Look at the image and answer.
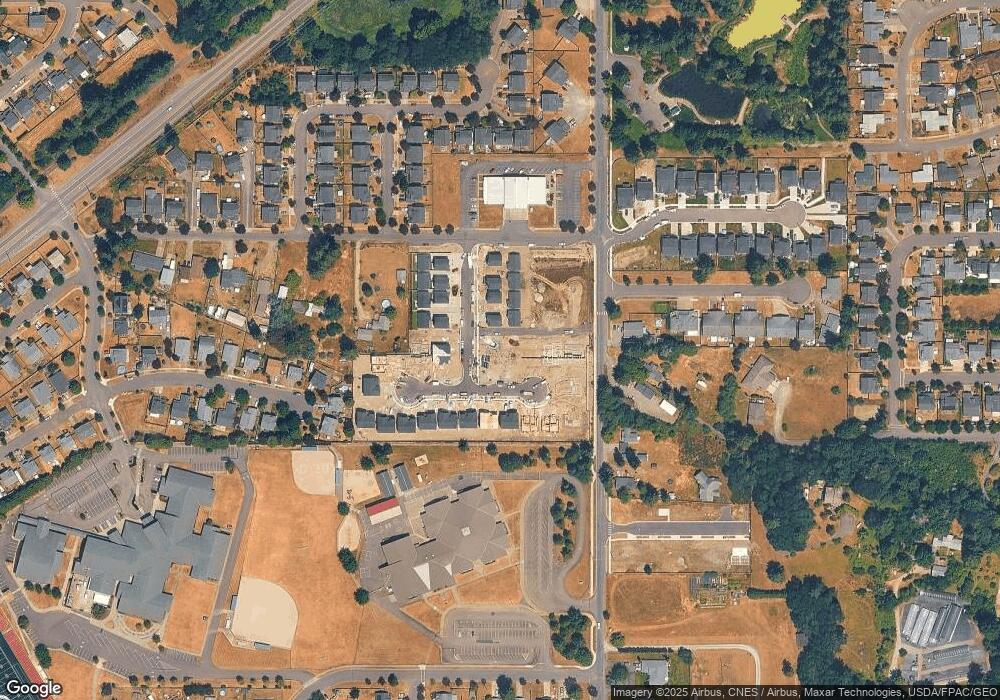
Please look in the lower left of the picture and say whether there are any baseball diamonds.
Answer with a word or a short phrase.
Yes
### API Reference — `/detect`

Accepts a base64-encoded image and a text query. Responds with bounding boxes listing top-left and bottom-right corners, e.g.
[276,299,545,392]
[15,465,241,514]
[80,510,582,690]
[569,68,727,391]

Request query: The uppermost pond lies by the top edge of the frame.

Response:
[728,0,801,48]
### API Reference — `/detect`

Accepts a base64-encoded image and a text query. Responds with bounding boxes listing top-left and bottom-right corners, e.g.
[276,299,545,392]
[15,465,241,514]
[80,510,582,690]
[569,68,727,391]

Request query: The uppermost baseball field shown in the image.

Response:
[292,445,343,496]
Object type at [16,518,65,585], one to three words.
building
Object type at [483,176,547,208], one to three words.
building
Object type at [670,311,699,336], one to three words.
house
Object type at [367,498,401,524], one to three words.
shed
